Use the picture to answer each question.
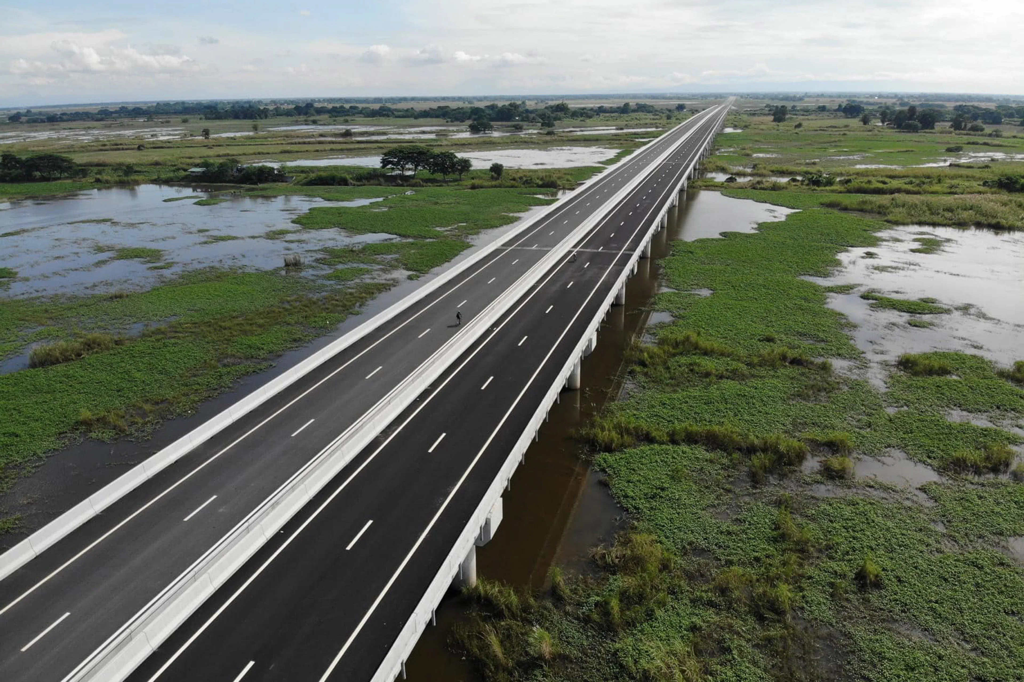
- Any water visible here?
Yes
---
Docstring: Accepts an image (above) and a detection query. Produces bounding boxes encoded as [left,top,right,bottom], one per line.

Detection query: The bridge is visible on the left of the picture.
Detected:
[0,111,725,682]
